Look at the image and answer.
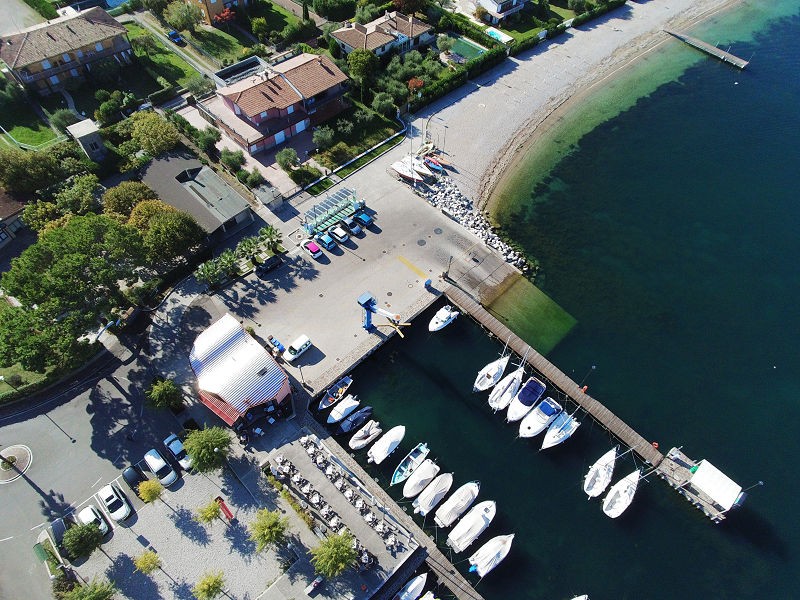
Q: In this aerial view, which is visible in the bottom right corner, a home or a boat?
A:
boat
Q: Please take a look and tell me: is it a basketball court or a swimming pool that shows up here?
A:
swimming pool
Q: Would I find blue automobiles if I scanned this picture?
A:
Yes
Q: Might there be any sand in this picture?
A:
Yes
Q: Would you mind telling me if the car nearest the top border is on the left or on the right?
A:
left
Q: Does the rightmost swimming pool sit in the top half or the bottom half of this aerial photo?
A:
top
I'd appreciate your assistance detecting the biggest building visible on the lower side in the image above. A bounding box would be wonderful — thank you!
[188,312,290,435]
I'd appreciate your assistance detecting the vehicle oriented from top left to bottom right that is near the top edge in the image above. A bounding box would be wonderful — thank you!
[164,27,185,47]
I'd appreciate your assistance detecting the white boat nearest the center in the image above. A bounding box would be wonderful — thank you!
[430,303,462,330]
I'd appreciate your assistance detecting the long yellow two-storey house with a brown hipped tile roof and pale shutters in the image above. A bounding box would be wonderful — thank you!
[0,3,136,102]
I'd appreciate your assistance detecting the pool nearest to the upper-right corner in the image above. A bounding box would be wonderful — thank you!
[477,21,519,48]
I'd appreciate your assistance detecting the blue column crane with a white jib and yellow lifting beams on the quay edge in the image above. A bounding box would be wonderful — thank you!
[358,291,412,338]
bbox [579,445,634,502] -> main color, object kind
white boat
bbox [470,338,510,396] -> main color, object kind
white boat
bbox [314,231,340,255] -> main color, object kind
blue car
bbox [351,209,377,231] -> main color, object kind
blue car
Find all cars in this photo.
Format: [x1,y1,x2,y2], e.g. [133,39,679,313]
[45,514,80,552]
[118,462,155,503]
[338,215,364,240]
[299,238,325,262]
[142,448,179,487]
[314,231,340,255]
[280,331,312,363]
[162,432,195,470]
[351,209,377,231]
[75,500,112,537]
[164,27,185,47]
[327,223,353,247]
[96,481,134,523]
